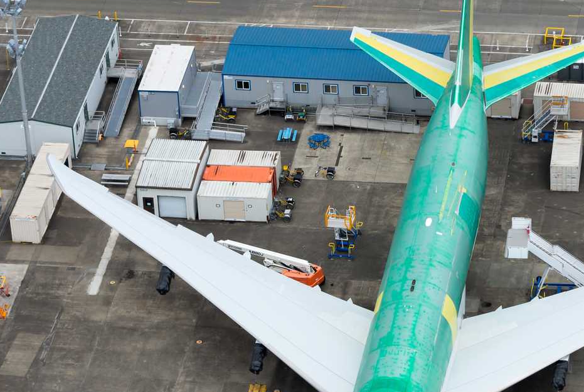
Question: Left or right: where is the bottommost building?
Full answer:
It is on the left.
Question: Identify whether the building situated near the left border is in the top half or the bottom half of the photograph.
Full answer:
It is in the top half that the building situated near the left border appears.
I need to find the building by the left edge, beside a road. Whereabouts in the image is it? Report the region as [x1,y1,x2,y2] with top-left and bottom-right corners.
[0,10,119,159]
